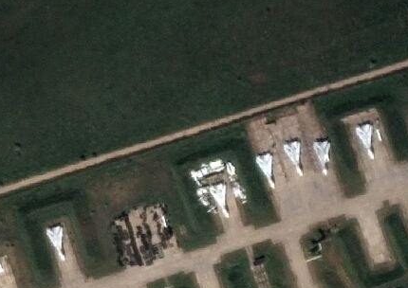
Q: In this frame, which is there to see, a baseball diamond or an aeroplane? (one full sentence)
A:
This aerial view contains an aeroplane.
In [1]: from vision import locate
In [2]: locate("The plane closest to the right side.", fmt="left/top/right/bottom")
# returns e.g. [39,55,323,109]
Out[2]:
[357,123,374,159]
